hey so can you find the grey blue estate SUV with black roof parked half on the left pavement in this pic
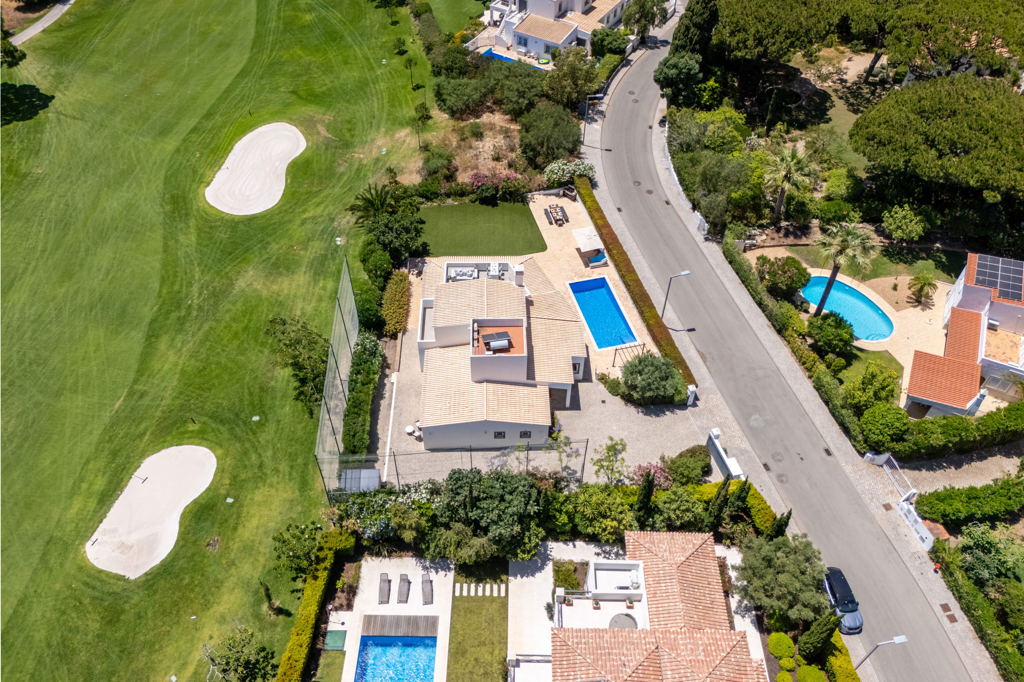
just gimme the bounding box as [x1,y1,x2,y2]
[815,560,866,629]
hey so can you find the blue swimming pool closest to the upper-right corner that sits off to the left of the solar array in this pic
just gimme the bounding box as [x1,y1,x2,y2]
[798,273,899,343]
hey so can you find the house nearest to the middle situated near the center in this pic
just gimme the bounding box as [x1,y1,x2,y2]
[417,255,588,449]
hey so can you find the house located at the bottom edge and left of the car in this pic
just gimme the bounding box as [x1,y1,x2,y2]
[505,528,760,682]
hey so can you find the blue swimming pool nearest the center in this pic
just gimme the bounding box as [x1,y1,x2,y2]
[564,274,642,352]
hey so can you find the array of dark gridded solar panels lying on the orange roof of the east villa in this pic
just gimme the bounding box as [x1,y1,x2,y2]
[979,253,1024,292]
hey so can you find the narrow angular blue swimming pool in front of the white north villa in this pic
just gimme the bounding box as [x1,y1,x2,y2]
[477,50,556,78]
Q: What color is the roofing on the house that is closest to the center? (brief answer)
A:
white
